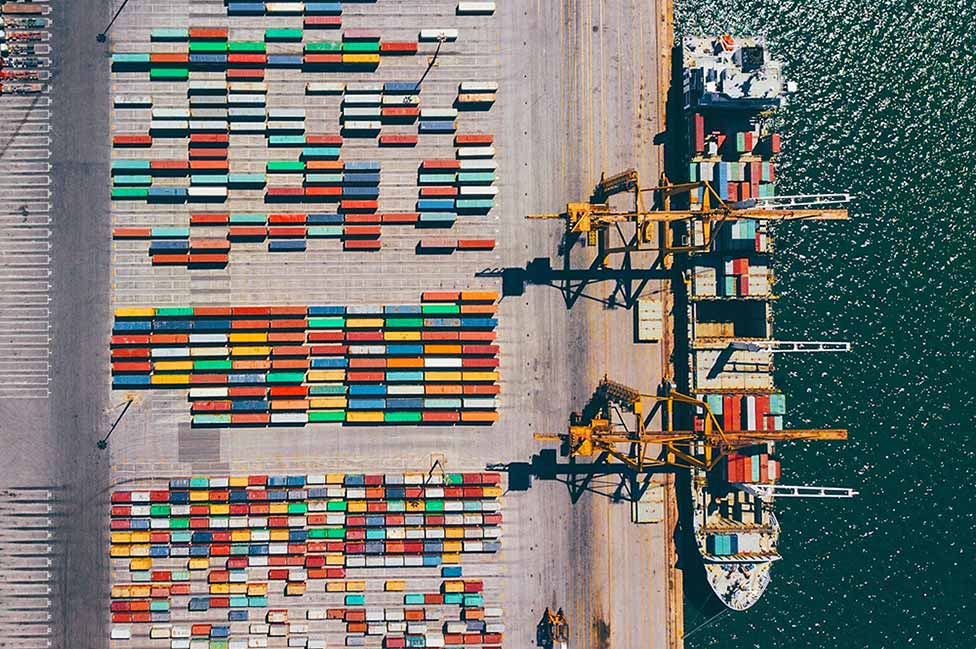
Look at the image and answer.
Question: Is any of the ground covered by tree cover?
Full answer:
No, there is no tree cover in the image.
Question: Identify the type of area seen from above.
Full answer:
The area seen from above is a port.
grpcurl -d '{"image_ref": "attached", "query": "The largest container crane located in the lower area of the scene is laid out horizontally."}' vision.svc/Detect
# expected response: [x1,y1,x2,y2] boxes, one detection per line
[532,369,851,475]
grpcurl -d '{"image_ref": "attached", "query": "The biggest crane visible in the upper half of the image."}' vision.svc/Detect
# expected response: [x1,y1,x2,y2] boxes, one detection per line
[532,163,851,272]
